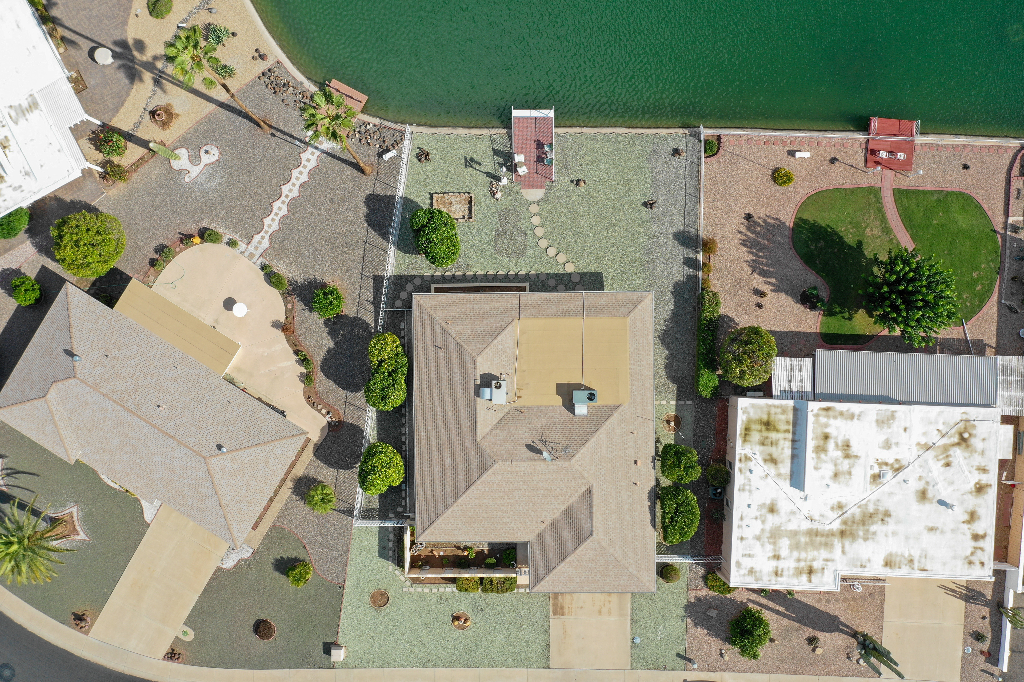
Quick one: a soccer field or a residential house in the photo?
residential house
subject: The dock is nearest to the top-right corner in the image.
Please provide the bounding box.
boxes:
[866,115,921,170]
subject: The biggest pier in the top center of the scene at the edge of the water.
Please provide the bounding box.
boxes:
[512,101,555,201]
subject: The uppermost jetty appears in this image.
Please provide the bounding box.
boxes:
[311,78,368,131]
